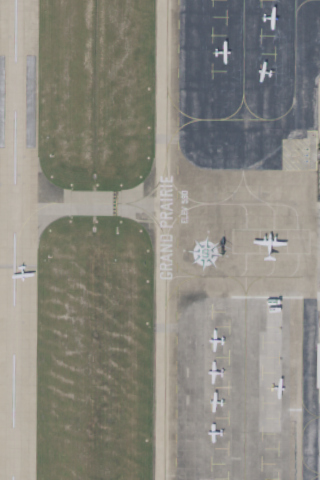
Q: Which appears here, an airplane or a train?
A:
airplane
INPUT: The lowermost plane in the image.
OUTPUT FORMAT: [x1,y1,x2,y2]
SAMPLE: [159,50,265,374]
[208,423,223,444]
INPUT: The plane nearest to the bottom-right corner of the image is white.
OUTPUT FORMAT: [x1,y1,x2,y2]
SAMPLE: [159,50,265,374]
[272,378,285,400]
